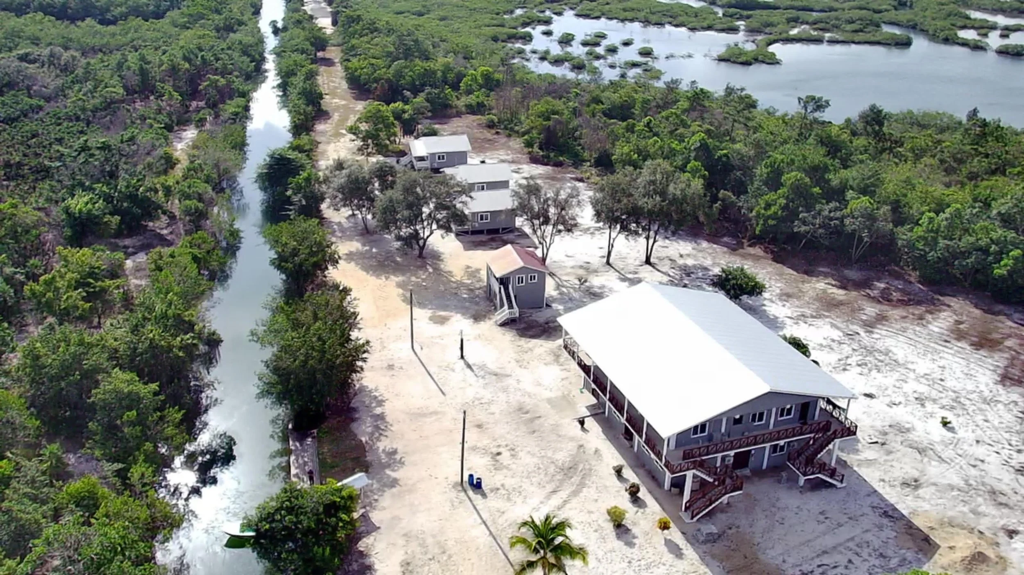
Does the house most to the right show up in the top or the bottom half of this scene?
bottom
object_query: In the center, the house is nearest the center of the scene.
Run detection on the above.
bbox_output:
[485,245,549,330]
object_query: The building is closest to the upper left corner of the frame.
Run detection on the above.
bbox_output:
[399,135,470,174]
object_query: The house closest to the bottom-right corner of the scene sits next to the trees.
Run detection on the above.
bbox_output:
[560,282,857,525]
